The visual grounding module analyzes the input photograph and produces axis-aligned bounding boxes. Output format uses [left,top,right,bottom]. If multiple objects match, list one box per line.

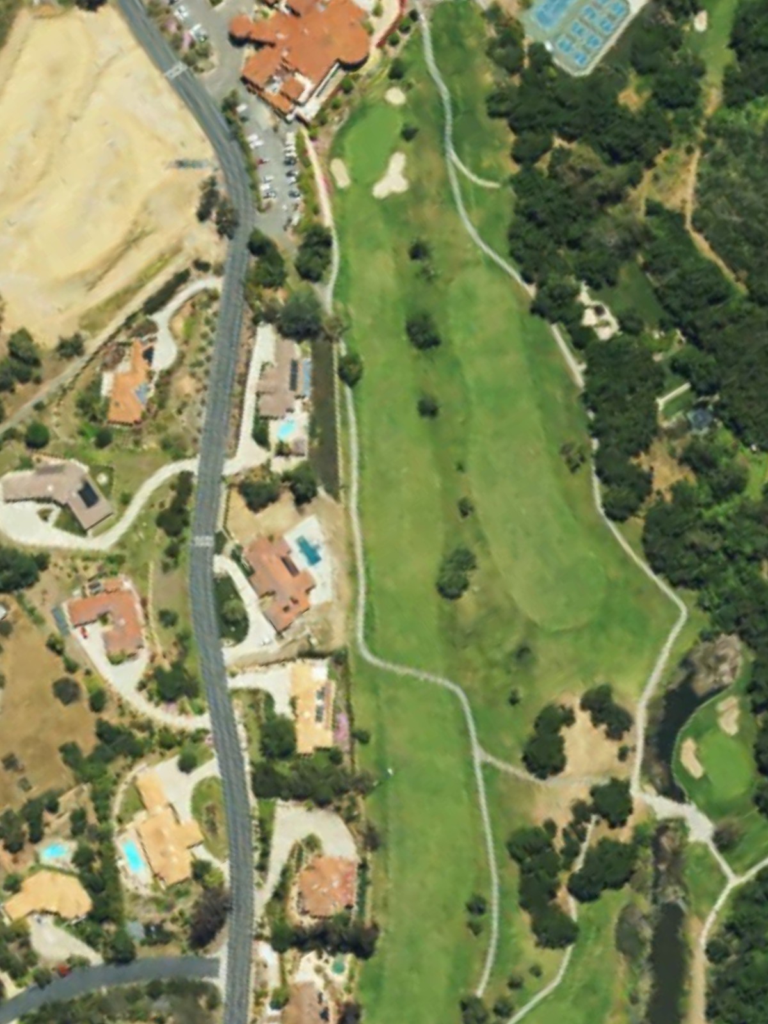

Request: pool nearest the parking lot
[278,419,296,438]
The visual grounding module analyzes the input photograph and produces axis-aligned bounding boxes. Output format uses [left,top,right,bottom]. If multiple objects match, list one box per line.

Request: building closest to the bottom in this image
[288,983,331,1024]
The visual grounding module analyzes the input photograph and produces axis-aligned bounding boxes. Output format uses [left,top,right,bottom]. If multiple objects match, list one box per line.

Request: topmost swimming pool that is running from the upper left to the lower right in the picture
[296,536,321,565]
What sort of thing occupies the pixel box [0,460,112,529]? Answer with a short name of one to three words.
house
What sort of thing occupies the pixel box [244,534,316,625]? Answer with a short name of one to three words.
house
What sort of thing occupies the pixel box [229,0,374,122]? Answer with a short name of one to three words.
building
